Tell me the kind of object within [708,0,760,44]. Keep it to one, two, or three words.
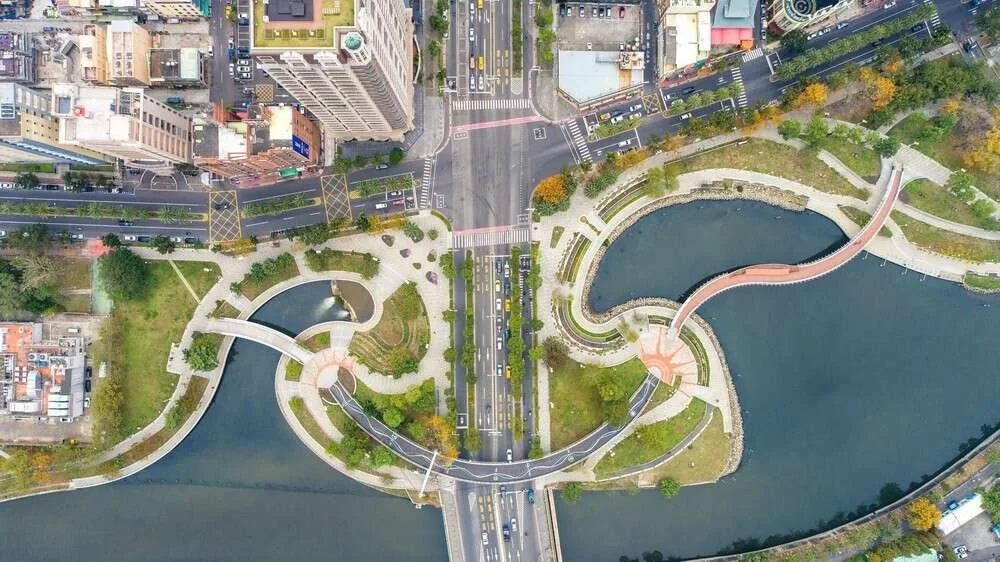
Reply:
house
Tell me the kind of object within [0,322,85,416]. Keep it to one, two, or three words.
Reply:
building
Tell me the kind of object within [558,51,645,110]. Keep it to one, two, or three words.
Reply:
building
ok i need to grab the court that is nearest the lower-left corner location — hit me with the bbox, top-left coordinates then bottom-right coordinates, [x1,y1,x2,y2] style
[92,257,113,312]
